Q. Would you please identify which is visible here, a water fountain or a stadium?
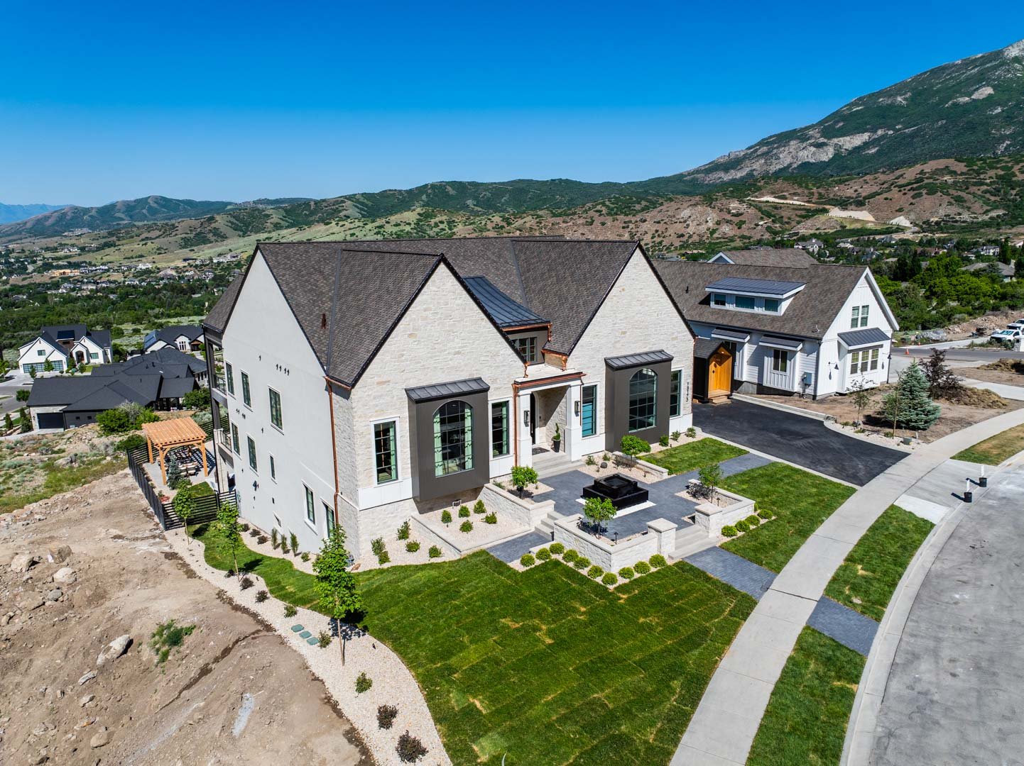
water fountain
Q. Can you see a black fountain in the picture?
Yes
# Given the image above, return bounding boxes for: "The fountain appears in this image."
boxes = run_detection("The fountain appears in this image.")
[568,473,663,518]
